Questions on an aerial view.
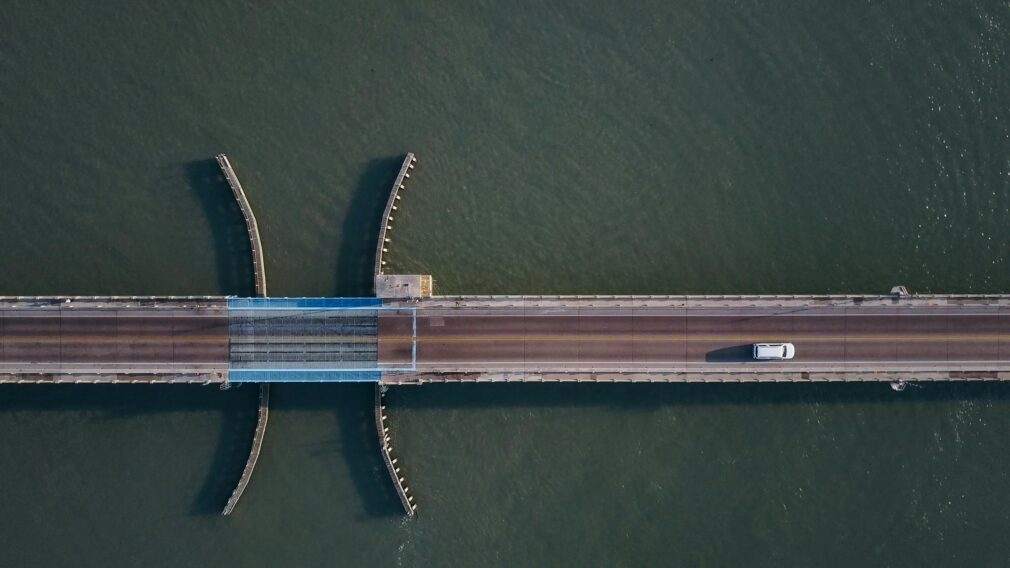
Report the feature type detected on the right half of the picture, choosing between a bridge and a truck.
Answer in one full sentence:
The feature located on the right half of the picture is a bridge.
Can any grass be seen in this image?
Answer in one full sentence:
No, the scene doesn't show any grass.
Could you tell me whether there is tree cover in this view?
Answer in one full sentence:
No, tree cover can't be seen anywhere here.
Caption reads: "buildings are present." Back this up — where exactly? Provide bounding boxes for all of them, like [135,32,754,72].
[376,275,433,296]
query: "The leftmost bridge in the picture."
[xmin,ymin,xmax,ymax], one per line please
[0,296,232,384]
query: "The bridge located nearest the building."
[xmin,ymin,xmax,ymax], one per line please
[416,286,1010,390]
